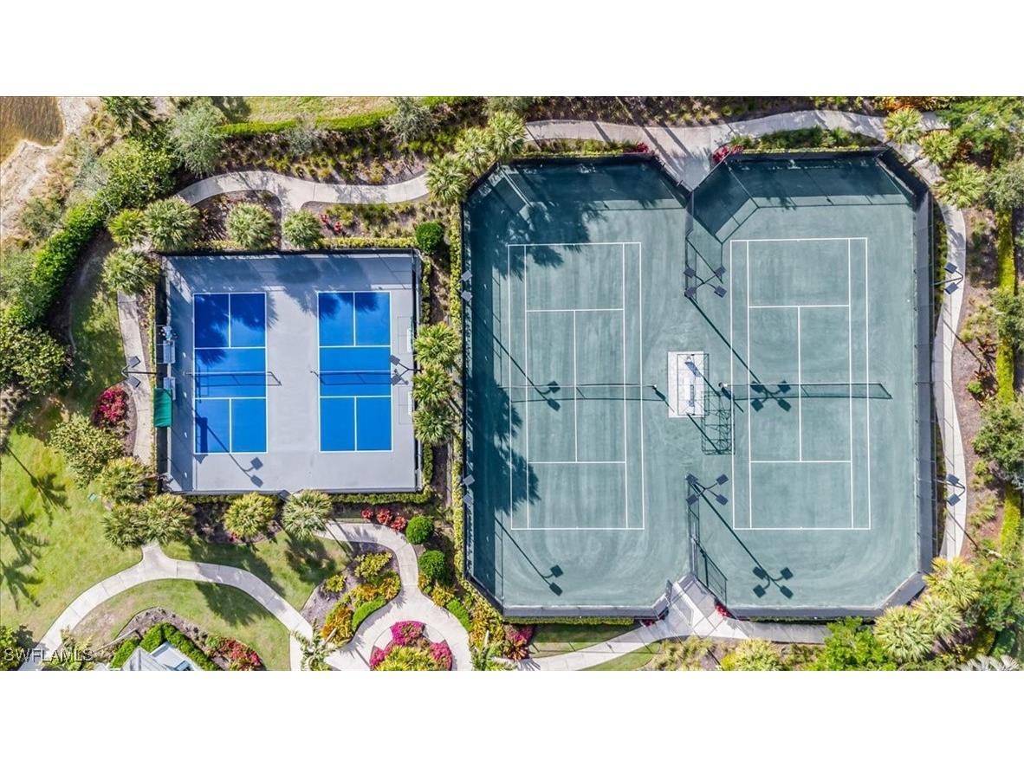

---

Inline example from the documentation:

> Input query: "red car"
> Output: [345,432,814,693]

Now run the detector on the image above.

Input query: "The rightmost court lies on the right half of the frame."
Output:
[686,157,919,608]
